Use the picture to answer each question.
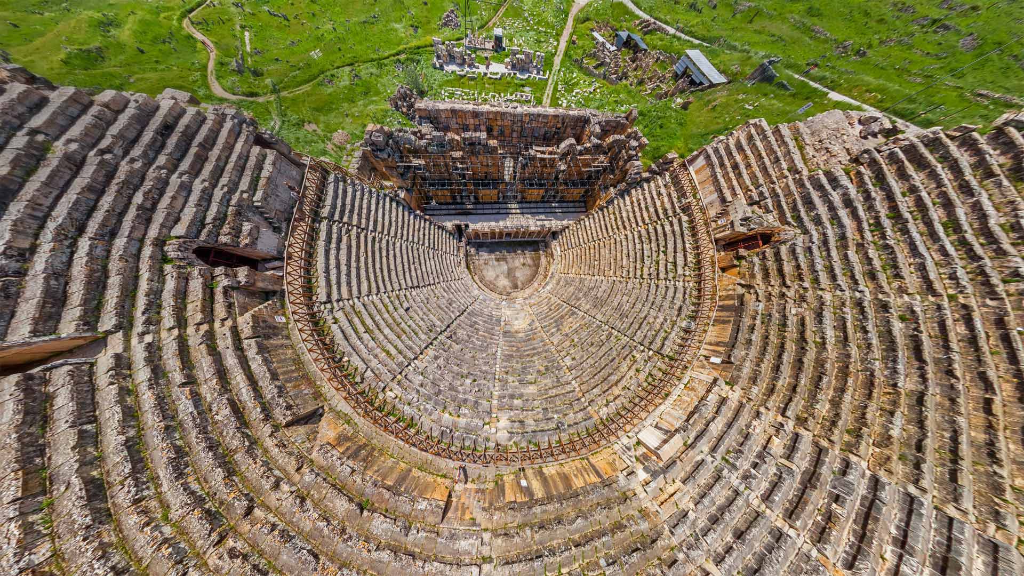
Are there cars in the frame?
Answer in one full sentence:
No, there appears to be no car in this shot.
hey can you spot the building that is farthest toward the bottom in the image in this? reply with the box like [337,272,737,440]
[349,96,643,243]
